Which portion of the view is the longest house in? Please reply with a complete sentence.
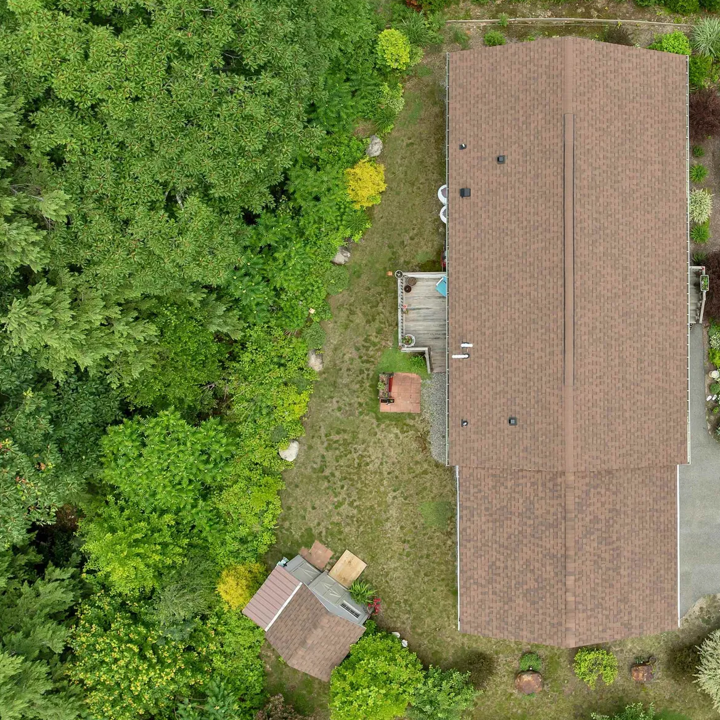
Look in the right portion of the view to spot the longest house.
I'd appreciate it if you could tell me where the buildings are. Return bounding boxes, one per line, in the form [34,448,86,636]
[447,35,690,646]
[243,556,376,680]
